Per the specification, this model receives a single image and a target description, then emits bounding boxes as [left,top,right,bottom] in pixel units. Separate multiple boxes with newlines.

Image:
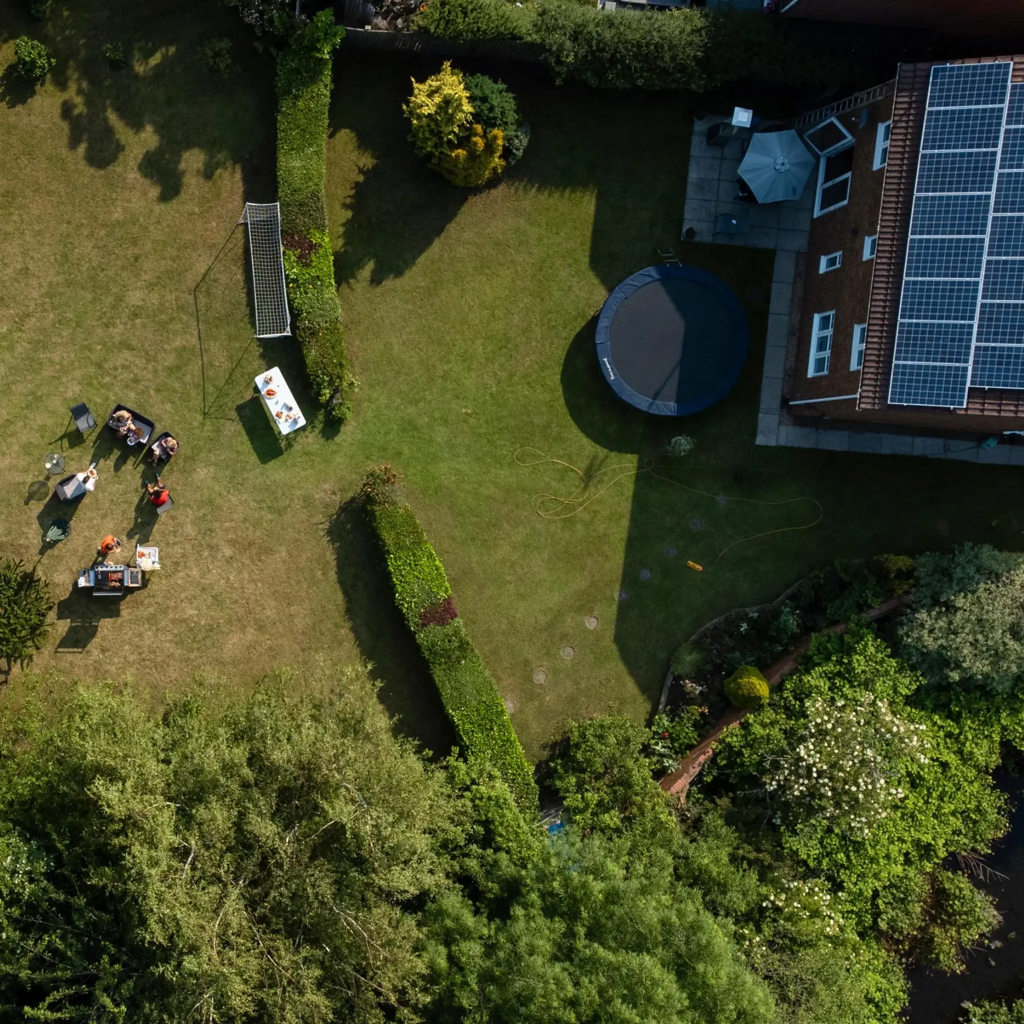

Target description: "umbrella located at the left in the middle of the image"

[44,512,73,540]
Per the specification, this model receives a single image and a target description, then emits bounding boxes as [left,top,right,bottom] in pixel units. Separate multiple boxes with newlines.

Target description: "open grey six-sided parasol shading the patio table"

[737,129,815,204]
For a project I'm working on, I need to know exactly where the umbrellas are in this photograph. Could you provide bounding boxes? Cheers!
[737,129,815,204]
[44,512,73,540]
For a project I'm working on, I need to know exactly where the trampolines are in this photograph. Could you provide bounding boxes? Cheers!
[595,254,748,417]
